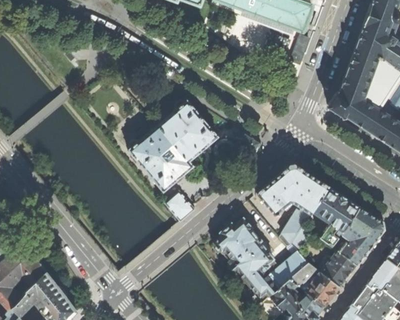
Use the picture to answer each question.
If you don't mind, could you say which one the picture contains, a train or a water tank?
train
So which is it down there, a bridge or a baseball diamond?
bridge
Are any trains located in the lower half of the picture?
No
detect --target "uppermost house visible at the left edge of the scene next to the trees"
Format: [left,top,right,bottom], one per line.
[0,254,42,290]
